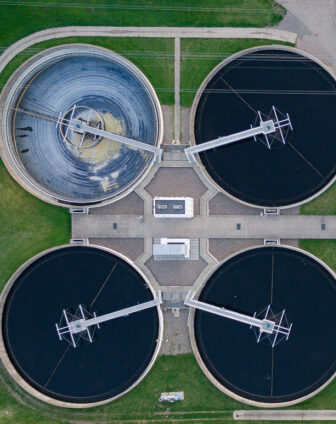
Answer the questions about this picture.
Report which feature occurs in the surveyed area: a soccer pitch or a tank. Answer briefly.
tank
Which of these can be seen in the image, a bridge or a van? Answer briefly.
bridge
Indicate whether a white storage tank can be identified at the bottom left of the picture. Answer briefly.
No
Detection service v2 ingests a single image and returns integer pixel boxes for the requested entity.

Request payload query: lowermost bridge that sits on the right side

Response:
[189,287,280,335]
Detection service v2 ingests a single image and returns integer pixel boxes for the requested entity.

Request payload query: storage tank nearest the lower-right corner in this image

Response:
[189,244,336,407]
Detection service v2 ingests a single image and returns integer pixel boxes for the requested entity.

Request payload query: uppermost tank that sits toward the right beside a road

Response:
[190,45,336,208]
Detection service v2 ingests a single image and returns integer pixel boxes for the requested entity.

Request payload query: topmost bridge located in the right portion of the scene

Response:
[190,117,280,166]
